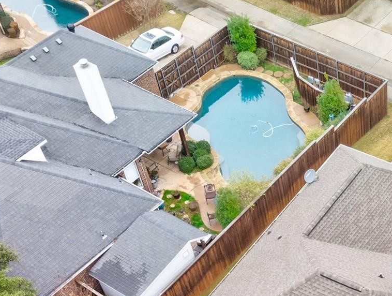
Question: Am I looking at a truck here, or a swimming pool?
swimming pool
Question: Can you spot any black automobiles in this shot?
No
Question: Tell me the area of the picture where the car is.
top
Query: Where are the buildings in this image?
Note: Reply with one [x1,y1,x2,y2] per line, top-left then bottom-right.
[209,144,392,296]
[0,19,198,296]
